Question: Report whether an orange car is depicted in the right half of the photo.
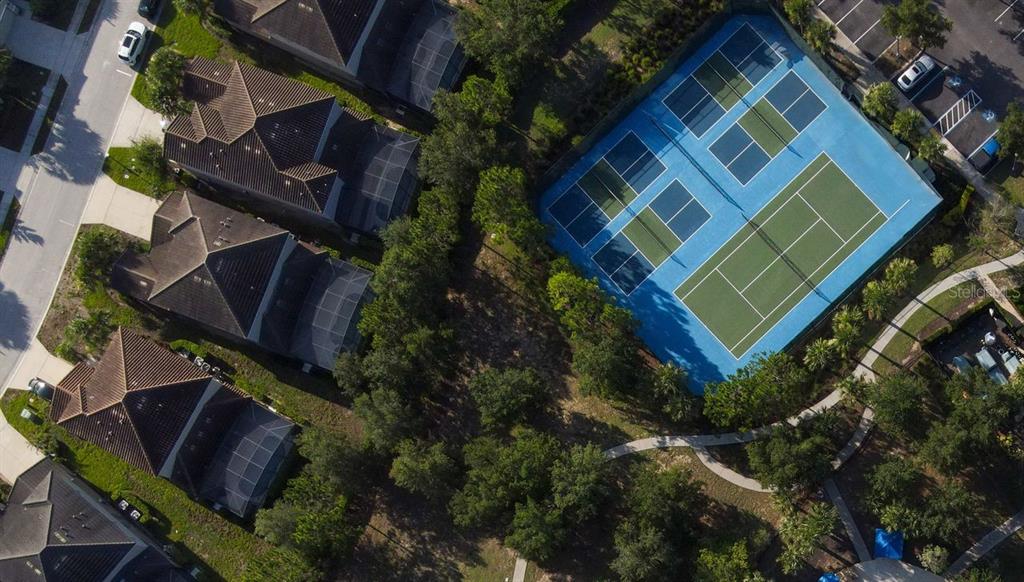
No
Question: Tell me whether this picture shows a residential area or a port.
residential area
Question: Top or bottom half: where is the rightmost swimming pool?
top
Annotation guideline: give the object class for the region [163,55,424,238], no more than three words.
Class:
house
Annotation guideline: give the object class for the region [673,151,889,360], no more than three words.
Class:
tennis court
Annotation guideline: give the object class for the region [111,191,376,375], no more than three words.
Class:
house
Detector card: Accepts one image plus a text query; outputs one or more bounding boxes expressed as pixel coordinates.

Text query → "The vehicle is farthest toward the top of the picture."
[137,0,163,21]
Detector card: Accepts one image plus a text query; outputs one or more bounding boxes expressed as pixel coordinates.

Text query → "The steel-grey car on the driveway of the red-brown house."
[27,381,55,404]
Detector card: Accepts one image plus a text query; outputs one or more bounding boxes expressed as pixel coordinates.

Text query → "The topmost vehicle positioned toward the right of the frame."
[895,55,935,94]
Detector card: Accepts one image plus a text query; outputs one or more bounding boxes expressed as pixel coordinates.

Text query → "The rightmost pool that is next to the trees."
[386,0,476,125]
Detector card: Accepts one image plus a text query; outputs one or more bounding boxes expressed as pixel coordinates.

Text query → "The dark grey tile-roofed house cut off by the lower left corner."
[0,457,205,582]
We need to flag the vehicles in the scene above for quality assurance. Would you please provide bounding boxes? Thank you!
[117,21,148,67]
[895,55,935,94]
[137,0,163,21]
[27,381,55,404]
[971,129,1013,171]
